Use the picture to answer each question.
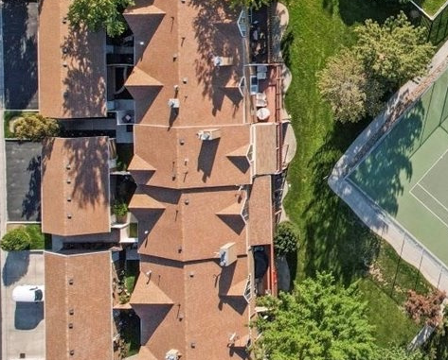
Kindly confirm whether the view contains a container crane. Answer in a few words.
No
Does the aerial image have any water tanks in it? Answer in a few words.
No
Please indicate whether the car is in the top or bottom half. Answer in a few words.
bottom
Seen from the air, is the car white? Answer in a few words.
Yes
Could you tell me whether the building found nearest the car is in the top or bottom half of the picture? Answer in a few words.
bottom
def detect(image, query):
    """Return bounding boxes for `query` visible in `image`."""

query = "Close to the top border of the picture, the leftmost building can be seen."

[39,0,113,119]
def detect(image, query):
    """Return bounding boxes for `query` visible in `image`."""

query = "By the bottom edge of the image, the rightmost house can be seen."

[130,247,261,360]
